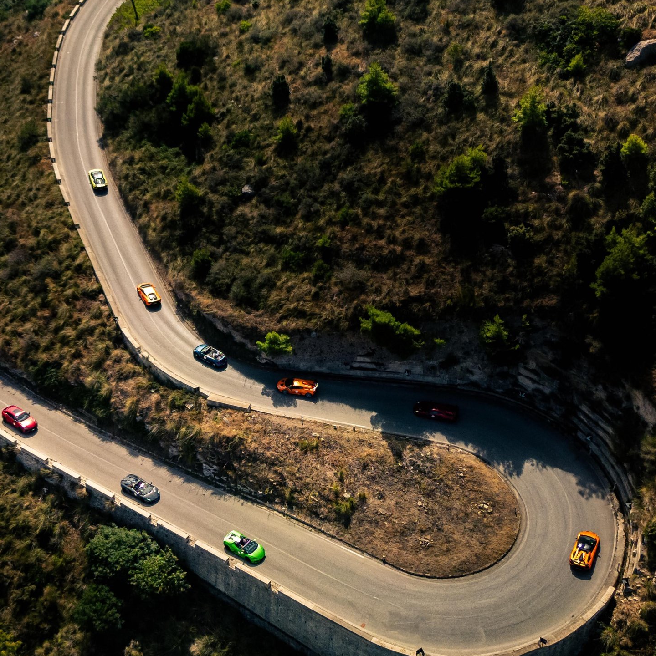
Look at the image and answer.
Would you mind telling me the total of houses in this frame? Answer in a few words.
none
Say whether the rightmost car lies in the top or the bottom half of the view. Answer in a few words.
bottom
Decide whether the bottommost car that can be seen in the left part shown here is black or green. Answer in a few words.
green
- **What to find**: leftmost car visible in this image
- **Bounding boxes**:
[0,407,39,434]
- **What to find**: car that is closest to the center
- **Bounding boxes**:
[277,378,320,397]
